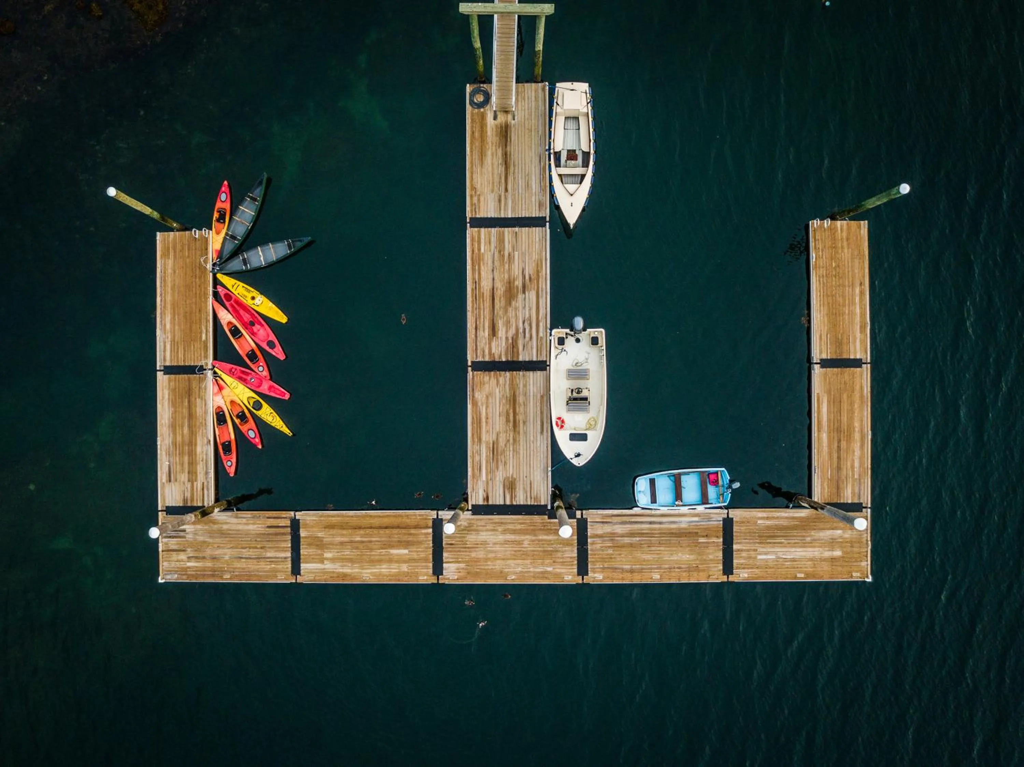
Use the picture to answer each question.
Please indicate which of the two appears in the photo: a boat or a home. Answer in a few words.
boat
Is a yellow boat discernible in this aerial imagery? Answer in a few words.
Yes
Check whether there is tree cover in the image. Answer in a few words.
No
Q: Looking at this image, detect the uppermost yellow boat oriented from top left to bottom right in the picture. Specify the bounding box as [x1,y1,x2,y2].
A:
[215,273,287,323]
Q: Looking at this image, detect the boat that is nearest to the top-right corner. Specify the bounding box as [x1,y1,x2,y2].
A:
[549,82,595,232]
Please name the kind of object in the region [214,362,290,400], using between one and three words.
boat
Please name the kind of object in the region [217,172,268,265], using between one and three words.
boat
